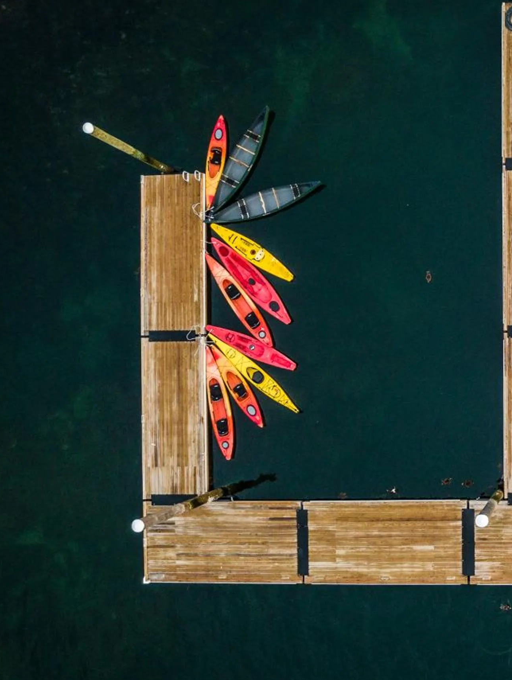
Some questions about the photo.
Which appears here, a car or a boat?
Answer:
boat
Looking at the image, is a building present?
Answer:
No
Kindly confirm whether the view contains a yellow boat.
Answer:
Yes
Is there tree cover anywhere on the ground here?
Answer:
No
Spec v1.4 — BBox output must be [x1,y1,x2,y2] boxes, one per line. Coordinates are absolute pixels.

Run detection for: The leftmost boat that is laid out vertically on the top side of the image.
[204,114,226,209]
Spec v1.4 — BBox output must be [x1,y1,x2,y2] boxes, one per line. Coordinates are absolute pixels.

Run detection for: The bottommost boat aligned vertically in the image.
[209,349,232,460]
